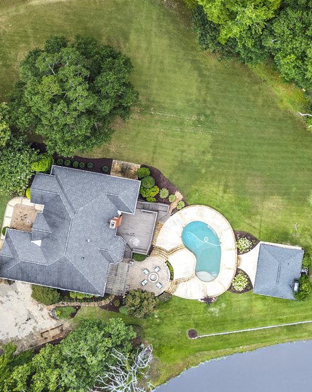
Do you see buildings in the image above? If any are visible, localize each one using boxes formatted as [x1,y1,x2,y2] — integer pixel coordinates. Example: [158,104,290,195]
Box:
[253,243,304,301]
[0,166,142,297]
